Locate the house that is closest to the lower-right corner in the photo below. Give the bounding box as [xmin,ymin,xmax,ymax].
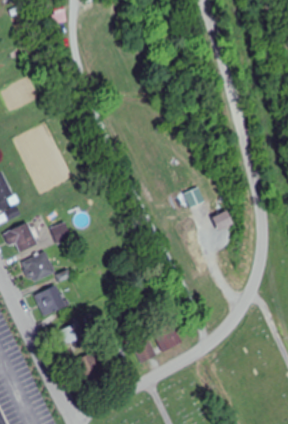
[156,330,181,353]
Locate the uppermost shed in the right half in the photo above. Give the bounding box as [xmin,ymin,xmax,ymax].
[178,186,204,208]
